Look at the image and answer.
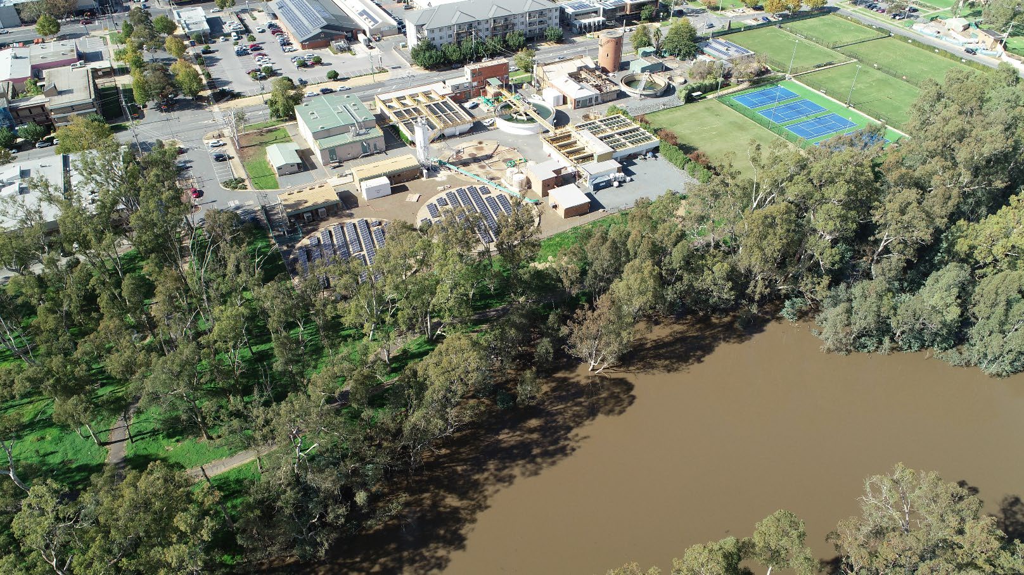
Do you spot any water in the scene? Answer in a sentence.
Yes, water can be seen from above here.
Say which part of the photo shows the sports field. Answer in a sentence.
Look in the top right portion of the view to spot the sports field.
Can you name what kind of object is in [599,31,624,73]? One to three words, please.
water tower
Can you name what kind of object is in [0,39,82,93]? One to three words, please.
building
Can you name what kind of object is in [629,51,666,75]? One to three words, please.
building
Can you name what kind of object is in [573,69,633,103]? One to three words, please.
storage tank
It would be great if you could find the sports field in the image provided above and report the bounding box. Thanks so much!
[696,14,1024,186]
